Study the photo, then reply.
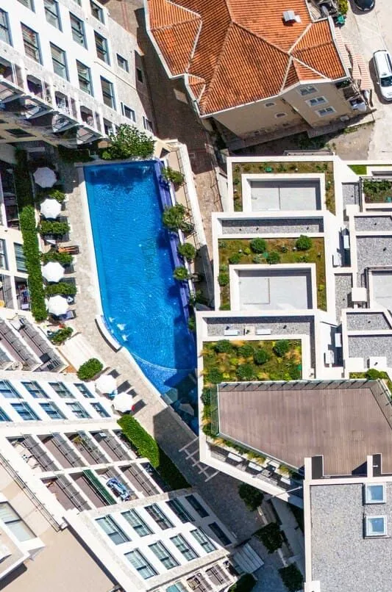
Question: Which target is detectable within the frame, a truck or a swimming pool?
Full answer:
It is a swimming pool that can be seen here.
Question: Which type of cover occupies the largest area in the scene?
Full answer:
The scene is dominated by buildings.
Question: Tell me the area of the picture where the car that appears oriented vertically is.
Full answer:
The car that appears oriented vertically appears toward the top right of the photo.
